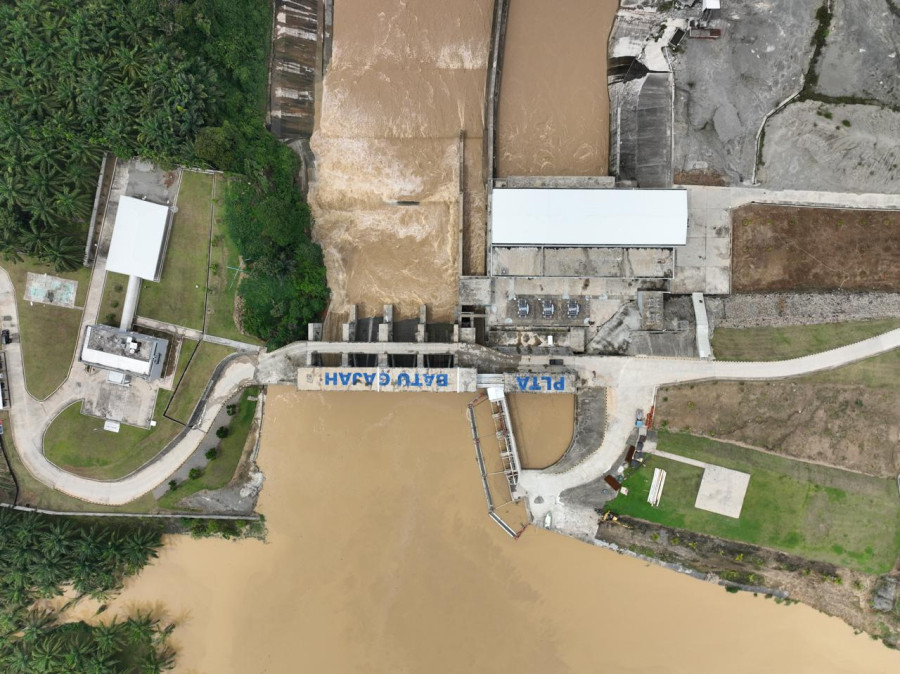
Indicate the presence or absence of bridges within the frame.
Yes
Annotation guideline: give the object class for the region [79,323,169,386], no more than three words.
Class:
building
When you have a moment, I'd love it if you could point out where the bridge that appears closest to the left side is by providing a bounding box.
[306,342,459,354]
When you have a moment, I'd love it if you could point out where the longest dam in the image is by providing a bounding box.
[308,305,463,367]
